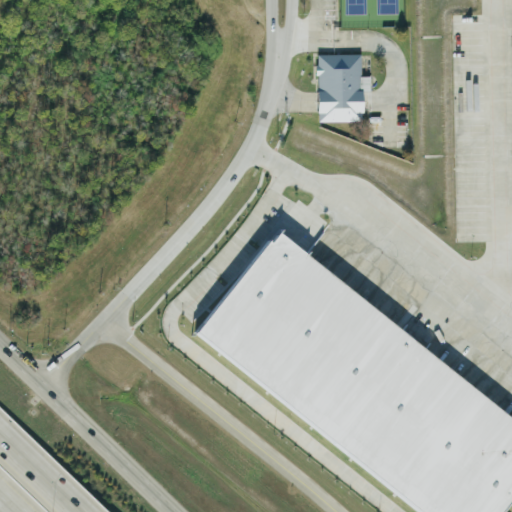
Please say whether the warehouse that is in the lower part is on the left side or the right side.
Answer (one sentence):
It is on the right.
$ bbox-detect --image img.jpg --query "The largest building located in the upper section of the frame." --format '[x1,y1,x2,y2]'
[315,54,372,123]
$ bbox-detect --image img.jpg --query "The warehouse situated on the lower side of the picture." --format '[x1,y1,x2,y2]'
[195,229,512,512]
